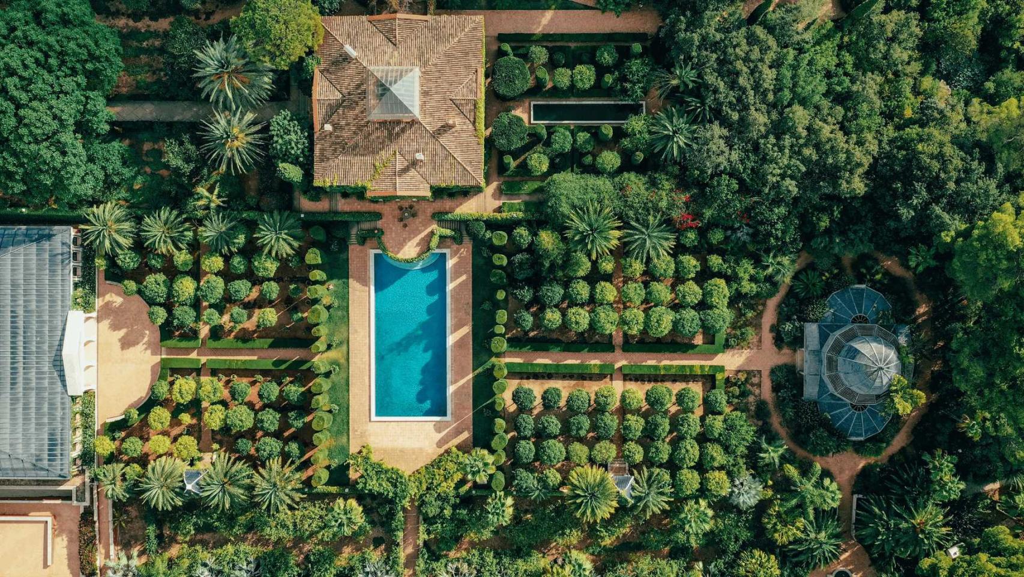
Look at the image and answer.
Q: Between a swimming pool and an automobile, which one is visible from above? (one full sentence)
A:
This aerial view contains a swimming pool.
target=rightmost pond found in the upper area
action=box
[531,101,645,124]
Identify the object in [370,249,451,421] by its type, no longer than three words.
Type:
swimming pool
